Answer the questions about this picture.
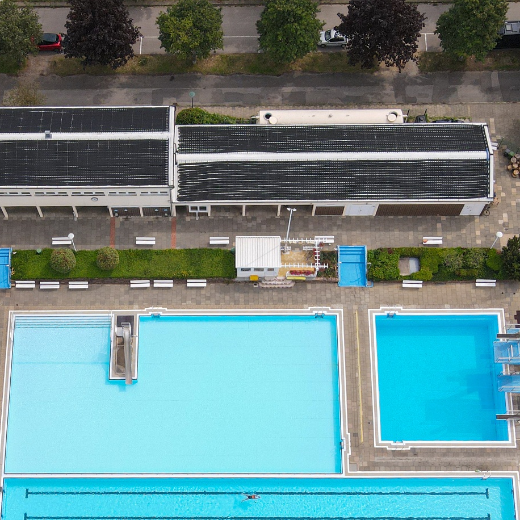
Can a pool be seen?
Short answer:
Yes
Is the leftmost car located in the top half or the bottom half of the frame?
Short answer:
top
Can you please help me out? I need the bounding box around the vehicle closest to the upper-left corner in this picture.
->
[31,33,65,53]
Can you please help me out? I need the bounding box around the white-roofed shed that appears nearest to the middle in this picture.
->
[234,236,280,285]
